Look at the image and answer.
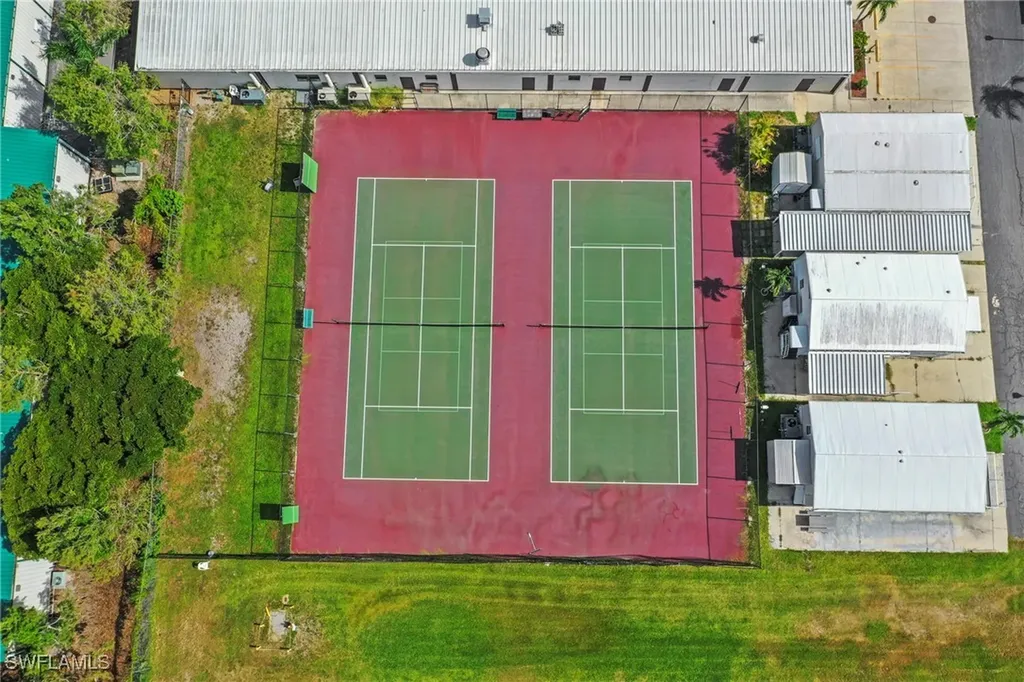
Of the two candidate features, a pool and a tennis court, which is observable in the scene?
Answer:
tennis court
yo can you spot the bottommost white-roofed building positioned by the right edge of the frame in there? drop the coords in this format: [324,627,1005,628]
[798,400,988,515]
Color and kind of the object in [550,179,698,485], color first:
green tennis court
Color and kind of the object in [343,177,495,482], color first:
green tennis court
